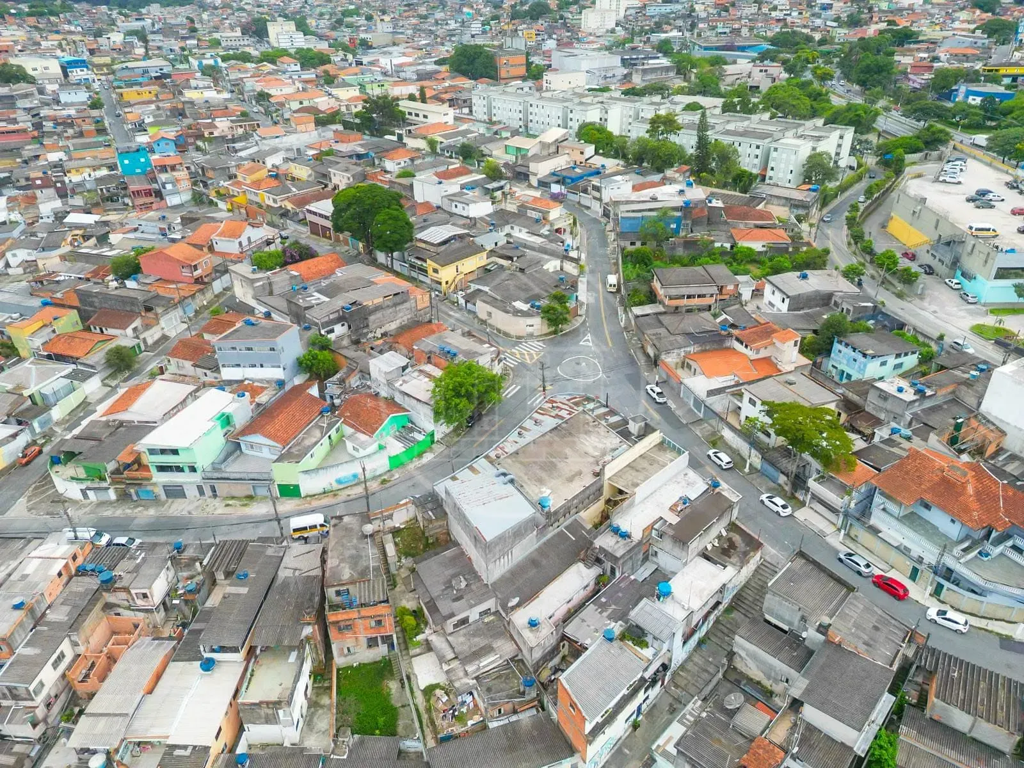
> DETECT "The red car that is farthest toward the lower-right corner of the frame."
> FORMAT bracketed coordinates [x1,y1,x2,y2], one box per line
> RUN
[872,575,917,606]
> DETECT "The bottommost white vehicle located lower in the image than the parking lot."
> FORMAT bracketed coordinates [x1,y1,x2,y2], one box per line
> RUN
[924,605,973,635]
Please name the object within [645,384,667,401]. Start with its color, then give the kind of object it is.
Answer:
white car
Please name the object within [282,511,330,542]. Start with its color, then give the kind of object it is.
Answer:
white van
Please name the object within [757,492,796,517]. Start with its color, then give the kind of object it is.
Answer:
white car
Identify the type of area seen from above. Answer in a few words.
residential area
